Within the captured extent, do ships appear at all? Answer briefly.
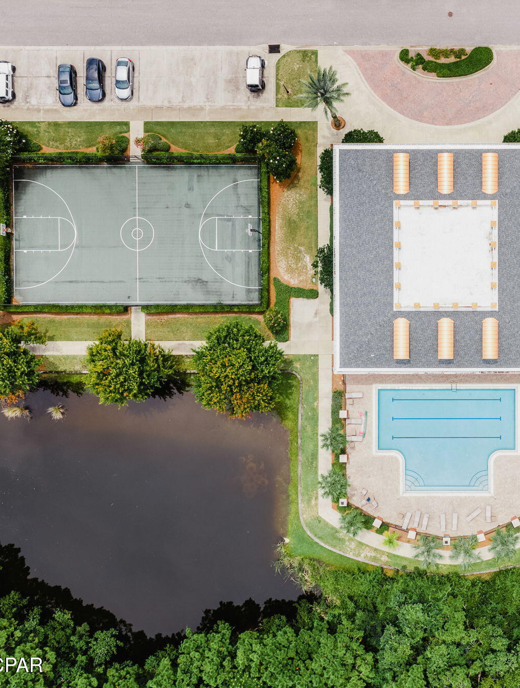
No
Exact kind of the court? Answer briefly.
basketball court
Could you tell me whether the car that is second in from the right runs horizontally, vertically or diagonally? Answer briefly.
vertically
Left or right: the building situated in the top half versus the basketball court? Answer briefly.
on its right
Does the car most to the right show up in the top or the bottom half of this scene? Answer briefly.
top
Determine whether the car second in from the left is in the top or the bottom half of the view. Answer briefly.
top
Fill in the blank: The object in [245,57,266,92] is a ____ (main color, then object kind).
white car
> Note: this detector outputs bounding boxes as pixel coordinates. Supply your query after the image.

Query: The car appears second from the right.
[113,58,136,103]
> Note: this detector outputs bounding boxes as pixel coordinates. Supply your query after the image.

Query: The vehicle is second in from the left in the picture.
[57,64,80,109]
